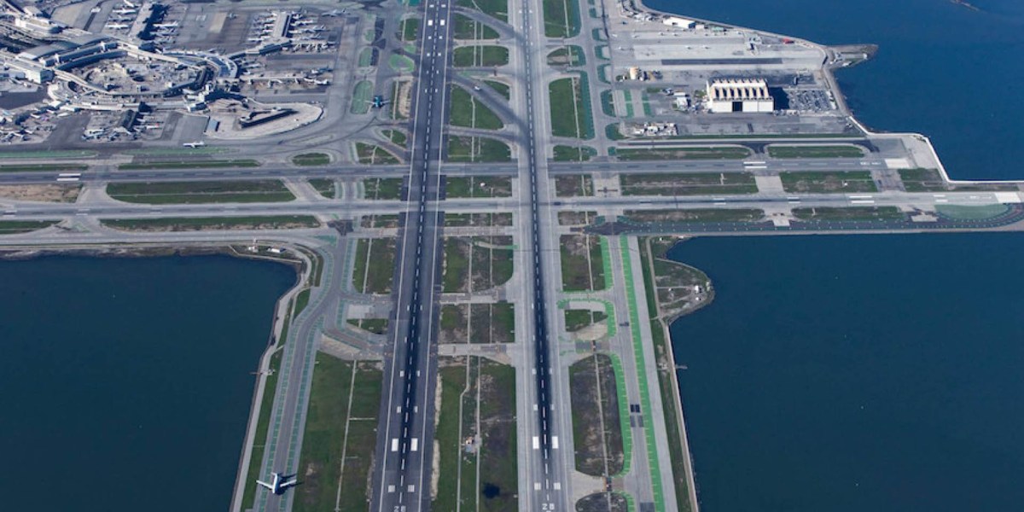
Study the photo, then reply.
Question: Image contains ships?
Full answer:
No, there is no ship in the image.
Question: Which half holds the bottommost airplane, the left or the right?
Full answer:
The bottommost airplane appears in the left half of the scene.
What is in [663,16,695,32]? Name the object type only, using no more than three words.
shed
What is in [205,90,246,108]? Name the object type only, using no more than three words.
building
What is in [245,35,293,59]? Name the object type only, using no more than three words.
building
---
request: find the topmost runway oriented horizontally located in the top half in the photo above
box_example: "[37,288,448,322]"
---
[0,156,913,182]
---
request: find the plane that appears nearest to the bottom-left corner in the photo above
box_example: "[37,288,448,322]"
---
[255,471,295,493]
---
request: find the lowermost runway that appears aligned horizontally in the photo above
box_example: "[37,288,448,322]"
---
[0,189,1024,220]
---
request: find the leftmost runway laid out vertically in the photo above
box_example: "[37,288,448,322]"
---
[369,0,456,512]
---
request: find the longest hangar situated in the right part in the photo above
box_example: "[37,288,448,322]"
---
[701,79,774,112]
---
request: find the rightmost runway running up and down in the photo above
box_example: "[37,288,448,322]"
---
[507,0,579,512]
